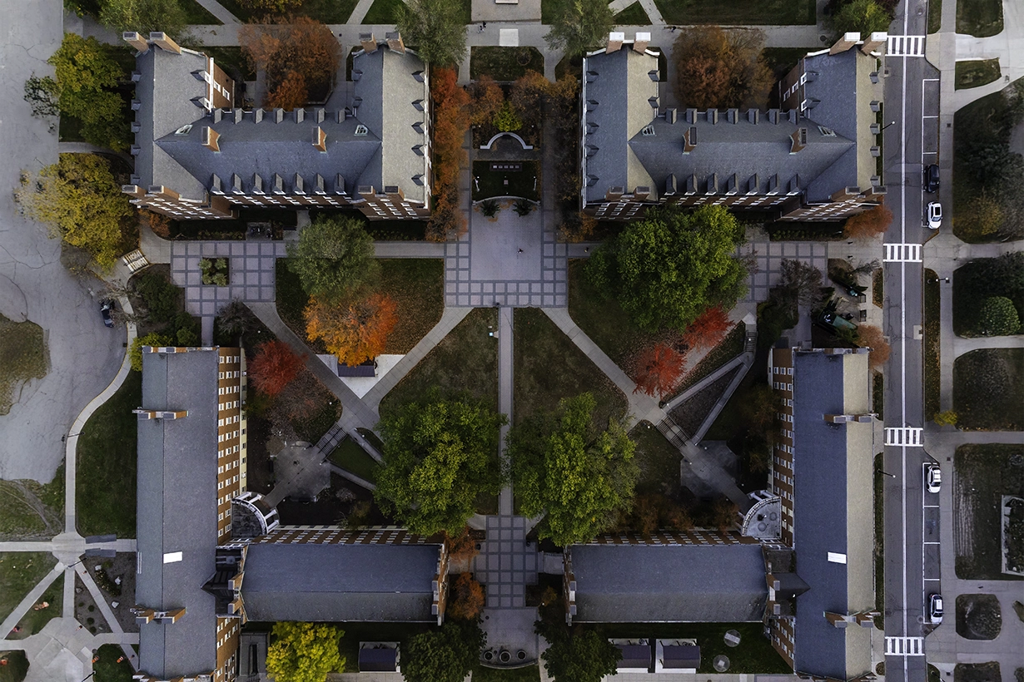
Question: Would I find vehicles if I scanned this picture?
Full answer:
Yes, a vehicle is visible in the scene.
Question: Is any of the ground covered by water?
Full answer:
No, there is no water in the image.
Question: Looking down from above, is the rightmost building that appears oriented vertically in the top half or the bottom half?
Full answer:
The rightmost building that appears oriented vertically is in the bottom half of the image.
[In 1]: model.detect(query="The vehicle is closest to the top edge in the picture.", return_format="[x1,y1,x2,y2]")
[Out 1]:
[925,162,941,192]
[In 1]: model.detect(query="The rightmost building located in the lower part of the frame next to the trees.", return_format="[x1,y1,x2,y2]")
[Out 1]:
[728,349,875,682]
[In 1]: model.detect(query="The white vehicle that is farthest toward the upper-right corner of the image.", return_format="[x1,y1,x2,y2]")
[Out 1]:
[926,200,943,229]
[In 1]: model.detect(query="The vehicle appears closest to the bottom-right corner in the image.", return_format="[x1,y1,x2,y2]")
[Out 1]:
[928,595,945,624]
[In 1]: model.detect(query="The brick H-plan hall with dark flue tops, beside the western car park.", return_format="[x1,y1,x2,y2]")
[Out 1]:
[123,29,432,214]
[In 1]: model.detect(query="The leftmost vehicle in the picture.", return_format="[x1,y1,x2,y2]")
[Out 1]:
[98,299,116,327]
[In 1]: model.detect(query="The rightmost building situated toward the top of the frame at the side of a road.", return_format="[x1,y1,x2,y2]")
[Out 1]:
[579,29,890,214]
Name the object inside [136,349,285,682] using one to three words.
building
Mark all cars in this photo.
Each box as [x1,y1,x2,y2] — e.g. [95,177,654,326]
[98,299,116,327]
[925,463,942,493]
[926,200,943,229]
[925,162,941,192]
[928,595,945,624]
